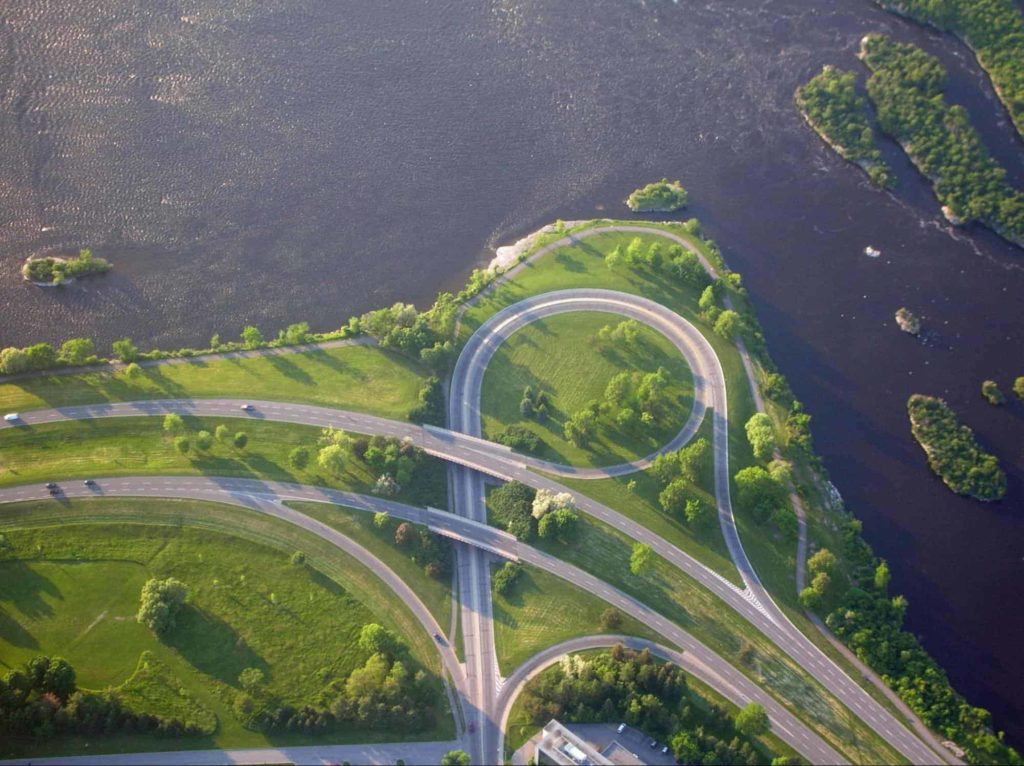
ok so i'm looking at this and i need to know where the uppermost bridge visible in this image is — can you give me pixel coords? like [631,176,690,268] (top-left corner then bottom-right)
[422,422,514,480]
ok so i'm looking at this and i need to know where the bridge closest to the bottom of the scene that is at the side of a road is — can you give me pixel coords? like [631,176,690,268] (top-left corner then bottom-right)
[426,504,519,562]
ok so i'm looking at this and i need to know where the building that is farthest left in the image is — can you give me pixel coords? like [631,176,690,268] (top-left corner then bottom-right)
[537,718,617,766]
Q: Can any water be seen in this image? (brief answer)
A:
Yes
